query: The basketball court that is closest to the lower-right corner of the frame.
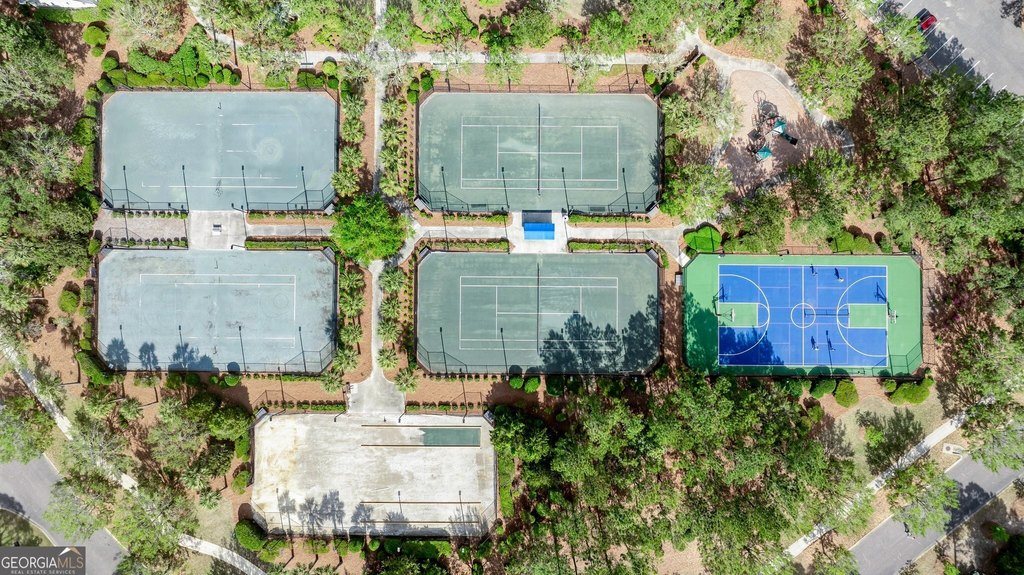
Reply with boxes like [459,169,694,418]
[683,253,923,377]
